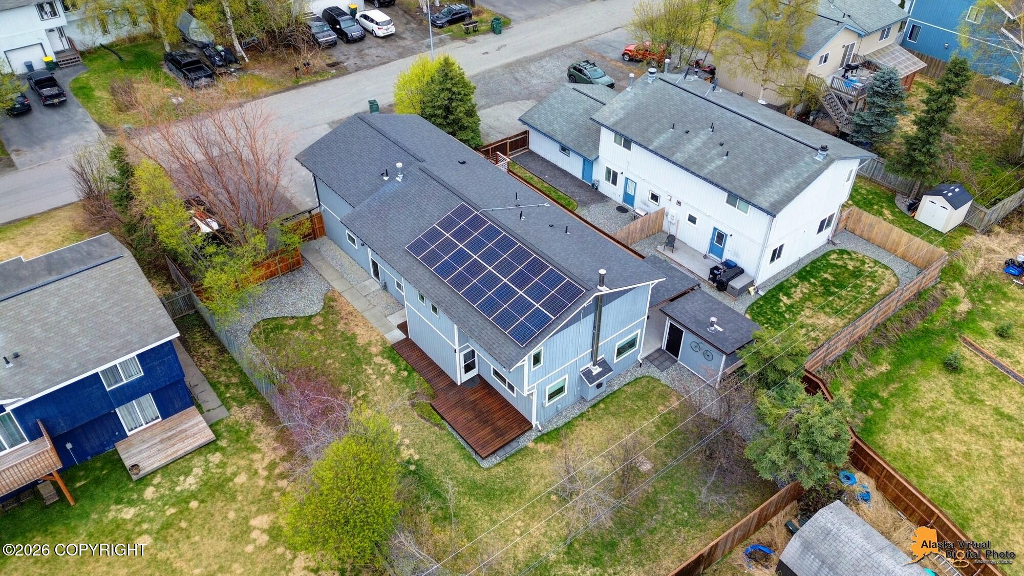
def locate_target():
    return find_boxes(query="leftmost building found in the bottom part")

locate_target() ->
[0,232,196,508]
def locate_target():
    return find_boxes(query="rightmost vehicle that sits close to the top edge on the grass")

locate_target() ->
[430,2,476,29]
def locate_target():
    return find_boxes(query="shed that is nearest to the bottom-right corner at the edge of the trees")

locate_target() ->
[774,495,959,576]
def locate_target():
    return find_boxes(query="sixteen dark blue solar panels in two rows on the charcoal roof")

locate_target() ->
[405,201,585,345]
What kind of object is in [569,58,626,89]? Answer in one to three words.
car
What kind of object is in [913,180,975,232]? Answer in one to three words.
shed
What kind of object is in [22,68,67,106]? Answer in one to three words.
truck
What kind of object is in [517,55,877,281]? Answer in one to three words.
house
